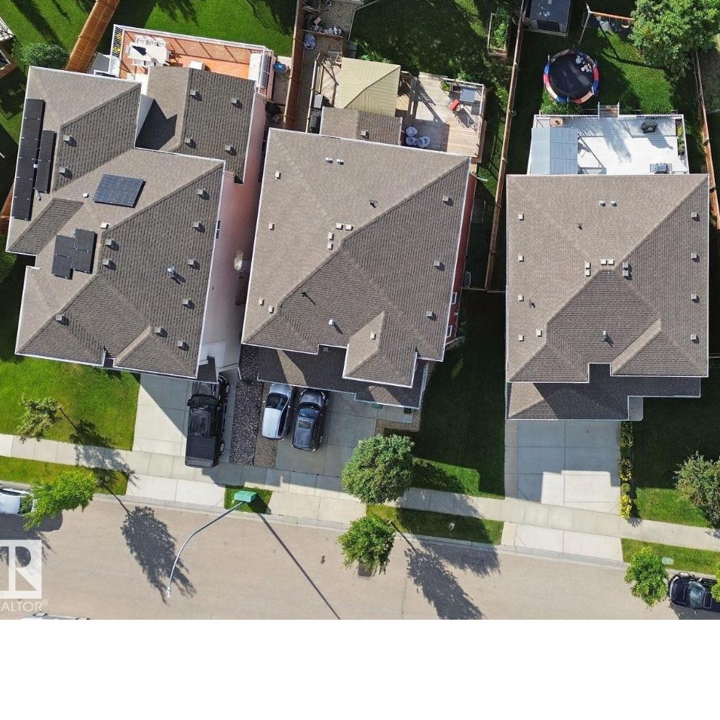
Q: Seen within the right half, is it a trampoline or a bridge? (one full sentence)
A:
You can see a trampoline within the right half.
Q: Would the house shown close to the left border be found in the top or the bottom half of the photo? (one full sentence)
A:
The house shown close to the left border sits in the top half of the picture.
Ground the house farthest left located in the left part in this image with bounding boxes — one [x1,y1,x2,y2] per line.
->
[4,66,273,384]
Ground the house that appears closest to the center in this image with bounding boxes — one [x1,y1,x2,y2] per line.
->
[238,106,485,411]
